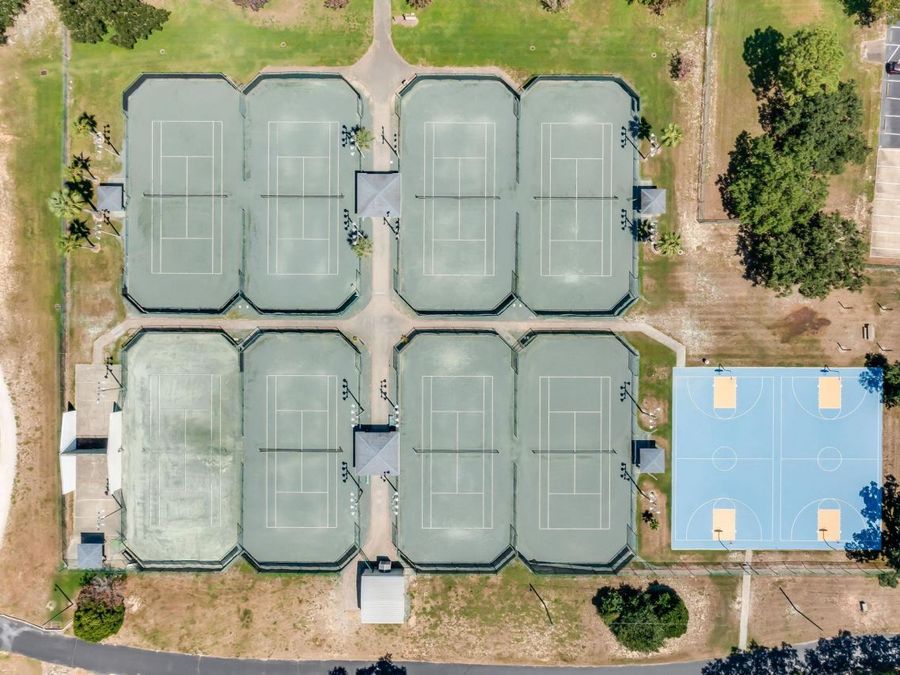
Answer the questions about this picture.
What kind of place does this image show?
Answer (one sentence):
The area seen from above is a sports ground.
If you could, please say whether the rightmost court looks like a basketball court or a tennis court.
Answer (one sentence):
The rightmost court in the image is a basketball court.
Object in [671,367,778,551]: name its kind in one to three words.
basketball court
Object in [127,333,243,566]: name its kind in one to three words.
tennis court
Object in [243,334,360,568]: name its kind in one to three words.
tennis court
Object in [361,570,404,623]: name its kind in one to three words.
shed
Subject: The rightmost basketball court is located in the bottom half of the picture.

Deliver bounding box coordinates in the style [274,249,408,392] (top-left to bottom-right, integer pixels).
[777,367,883,551]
